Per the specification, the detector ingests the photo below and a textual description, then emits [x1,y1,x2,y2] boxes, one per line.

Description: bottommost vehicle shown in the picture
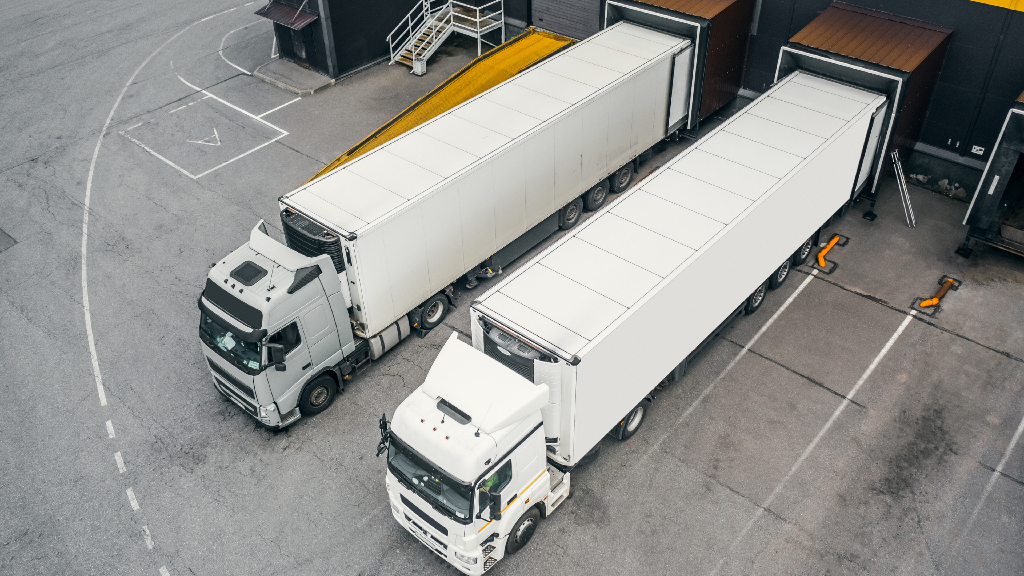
[367,329,569,576]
